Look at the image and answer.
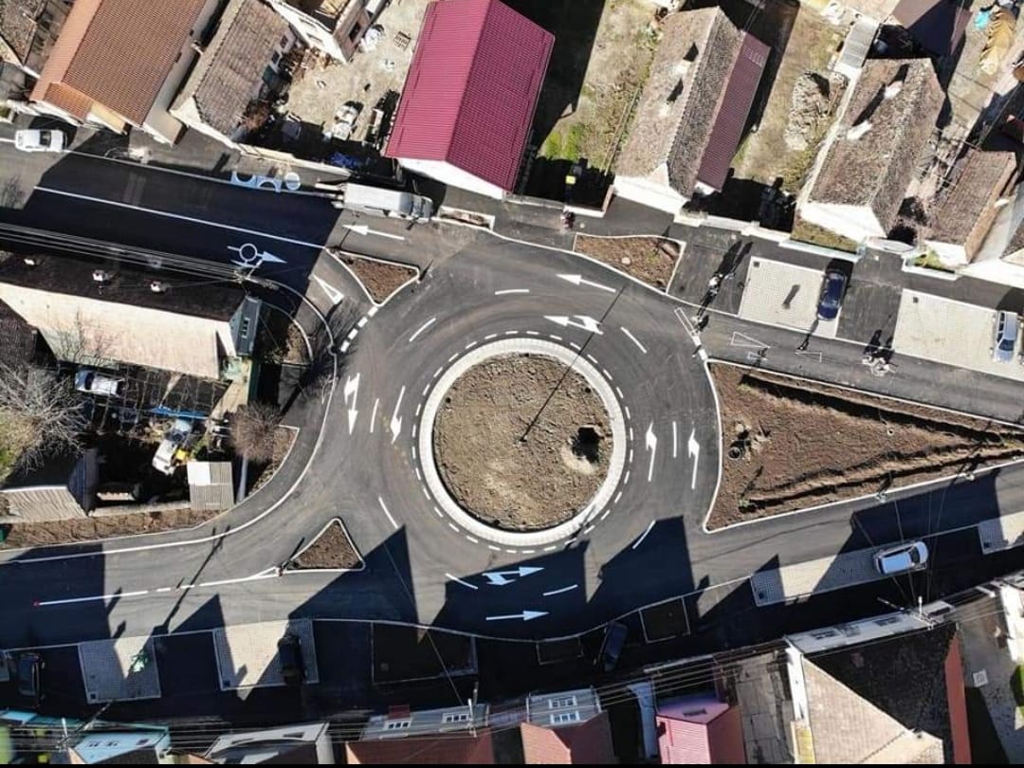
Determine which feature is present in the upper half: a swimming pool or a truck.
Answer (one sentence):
Visible in the upper half is a truck.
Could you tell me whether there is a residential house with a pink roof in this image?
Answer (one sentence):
Yes, a residential house with a pink roof is visible in the scene.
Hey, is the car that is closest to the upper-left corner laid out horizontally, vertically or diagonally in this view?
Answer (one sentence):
Seen from above, the car that is closest to the upper-left corner lies horizontally.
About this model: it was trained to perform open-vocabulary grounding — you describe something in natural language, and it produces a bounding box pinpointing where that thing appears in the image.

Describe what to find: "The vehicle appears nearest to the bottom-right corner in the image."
[867,538,929,576]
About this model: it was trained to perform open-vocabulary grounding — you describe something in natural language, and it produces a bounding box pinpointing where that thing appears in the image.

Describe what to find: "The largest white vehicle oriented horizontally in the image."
[328,176,433,227]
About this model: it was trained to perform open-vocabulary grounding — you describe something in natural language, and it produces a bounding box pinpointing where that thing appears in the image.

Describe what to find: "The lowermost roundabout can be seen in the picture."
[343,275,700,621]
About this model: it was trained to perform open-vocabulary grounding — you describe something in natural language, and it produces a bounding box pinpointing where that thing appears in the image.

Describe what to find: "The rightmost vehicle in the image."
[986,308,1023,365]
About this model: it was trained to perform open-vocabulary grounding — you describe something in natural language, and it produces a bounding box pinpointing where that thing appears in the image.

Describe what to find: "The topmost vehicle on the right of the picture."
[812,265,849,321]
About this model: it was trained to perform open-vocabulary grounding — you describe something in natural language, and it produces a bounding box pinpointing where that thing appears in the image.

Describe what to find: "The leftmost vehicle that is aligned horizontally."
[12,127,69,156]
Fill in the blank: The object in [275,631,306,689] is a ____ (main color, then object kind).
black car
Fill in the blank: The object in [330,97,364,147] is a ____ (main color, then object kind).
white car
